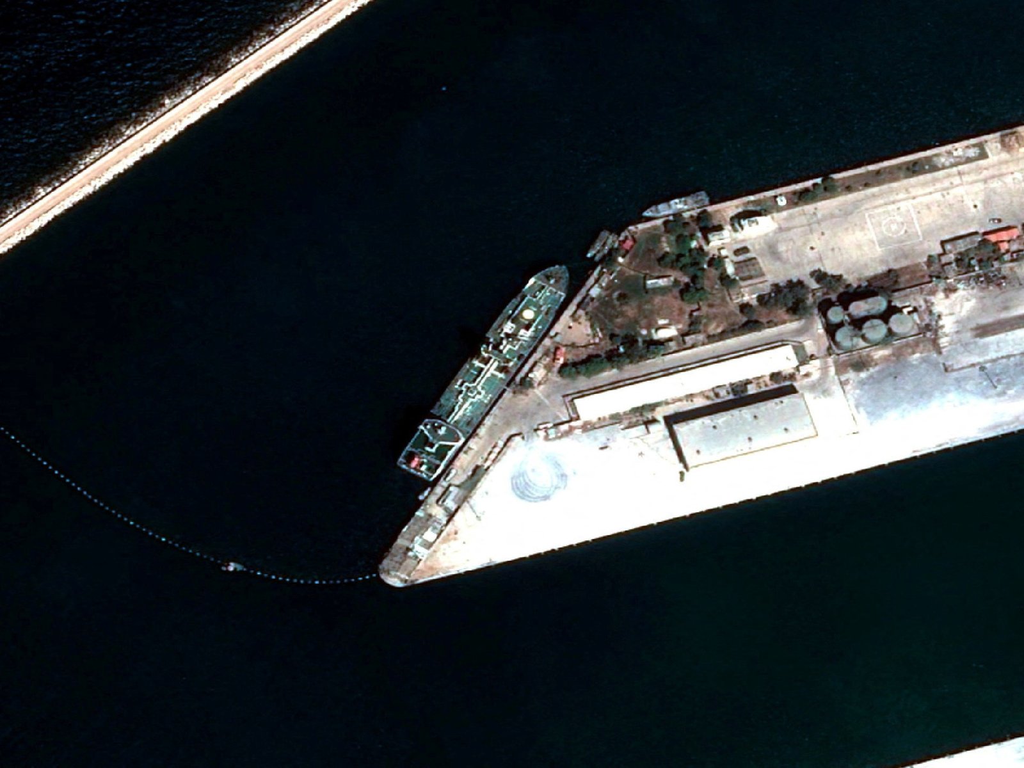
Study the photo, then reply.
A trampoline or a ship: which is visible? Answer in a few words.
ship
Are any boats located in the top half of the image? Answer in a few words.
Yes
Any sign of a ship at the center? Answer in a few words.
Yes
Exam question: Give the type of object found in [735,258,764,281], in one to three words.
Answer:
building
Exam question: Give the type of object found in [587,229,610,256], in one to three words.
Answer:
boat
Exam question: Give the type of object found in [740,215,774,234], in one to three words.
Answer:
building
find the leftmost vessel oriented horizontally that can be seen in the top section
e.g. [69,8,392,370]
[642,191,709,217]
